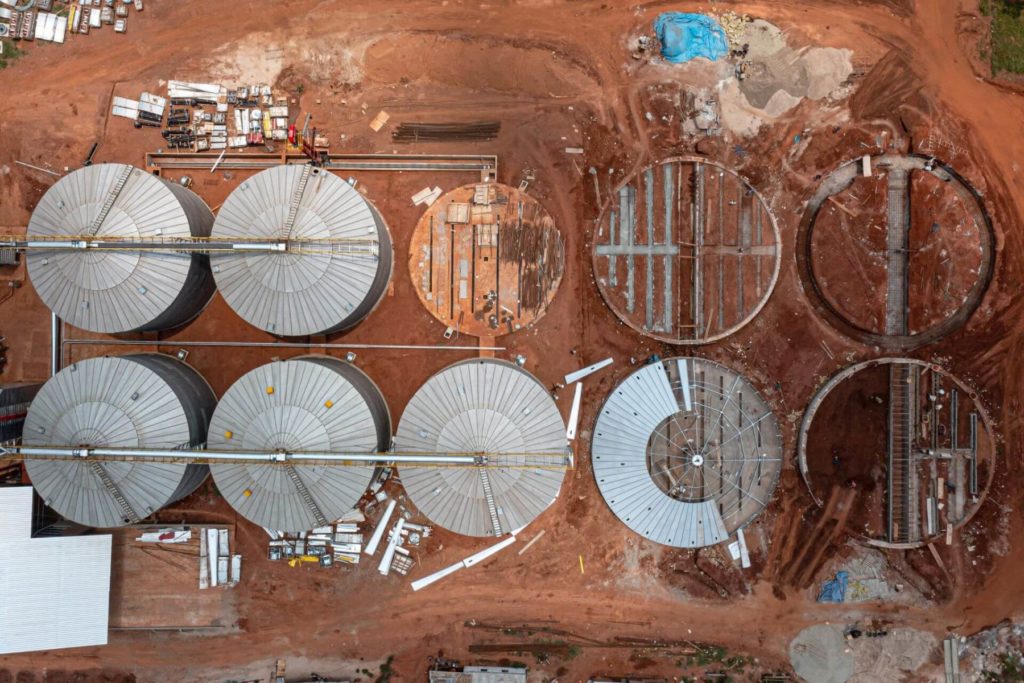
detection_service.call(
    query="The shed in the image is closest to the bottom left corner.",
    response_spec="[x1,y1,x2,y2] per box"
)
[0,473,113,653]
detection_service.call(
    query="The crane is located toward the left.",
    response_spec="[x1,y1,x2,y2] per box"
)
[285,113,333,167]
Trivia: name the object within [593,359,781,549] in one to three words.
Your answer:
silo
